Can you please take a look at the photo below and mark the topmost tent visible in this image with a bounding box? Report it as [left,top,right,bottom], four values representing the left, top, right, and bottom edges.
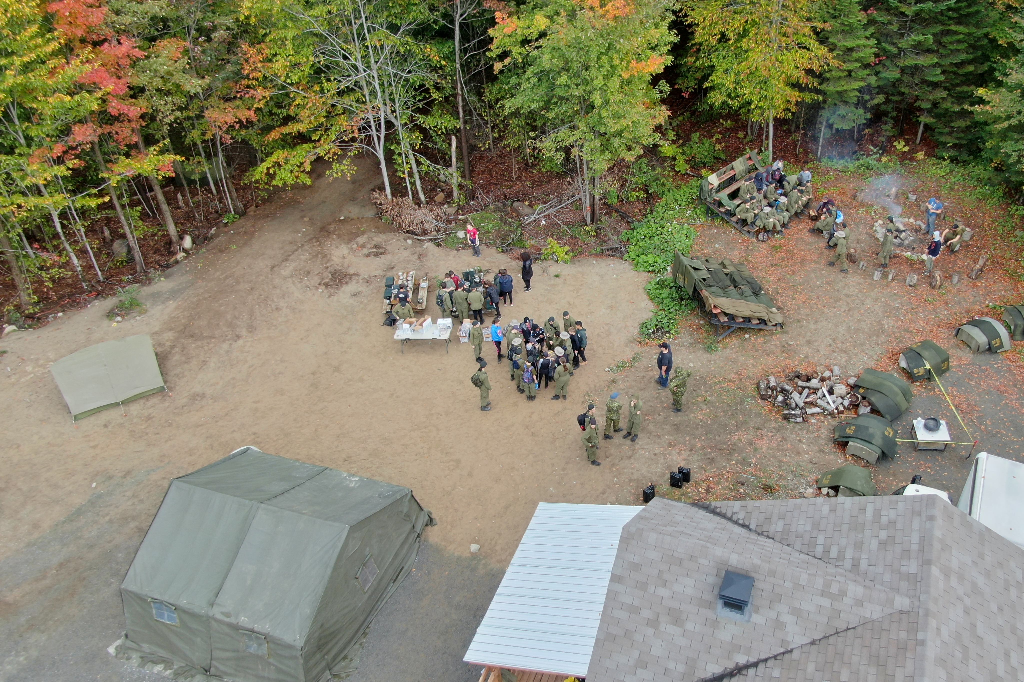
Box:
[53,334,172,424]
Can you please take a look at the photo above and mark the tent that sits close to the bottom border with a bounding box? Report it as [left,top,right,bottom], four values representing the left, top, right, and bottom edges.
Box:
[120,439,448,682]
